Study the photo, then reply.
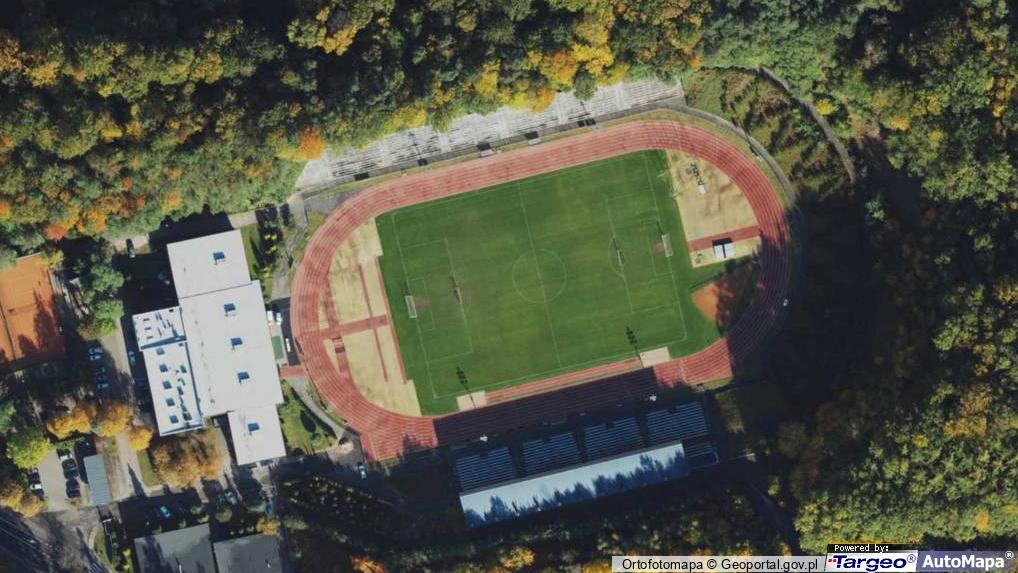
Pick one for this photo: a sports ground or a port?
sports ground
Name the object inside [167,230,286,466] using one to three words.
building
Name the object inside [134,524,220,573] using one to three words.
building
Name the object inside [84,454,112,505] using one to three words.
shed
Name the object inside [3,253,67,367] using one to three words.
tennis court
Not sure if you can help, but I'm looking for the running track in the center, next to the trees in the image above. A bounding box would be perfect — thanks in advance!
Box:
[279,121,792,461]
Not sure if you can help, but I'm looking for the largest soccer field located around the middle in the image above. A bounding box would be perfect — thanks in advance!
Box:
[375,151,762,415]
